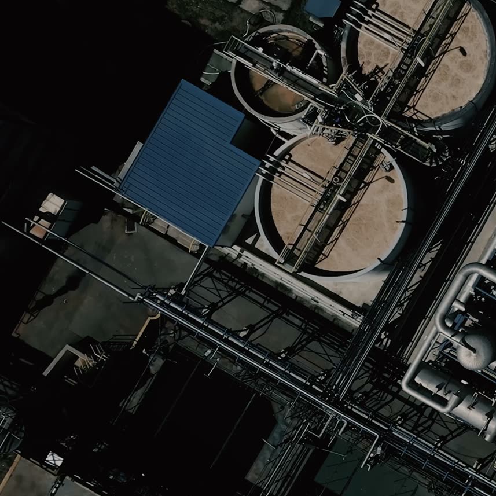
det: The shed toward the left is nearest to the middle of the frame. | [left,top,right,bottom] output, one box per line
[118,78,274,247]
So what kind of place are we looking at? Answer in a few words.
industrial area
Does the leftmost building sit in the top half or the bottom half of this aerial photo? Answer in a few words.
top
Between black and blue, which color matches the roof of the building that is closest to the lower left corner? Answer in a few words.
black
